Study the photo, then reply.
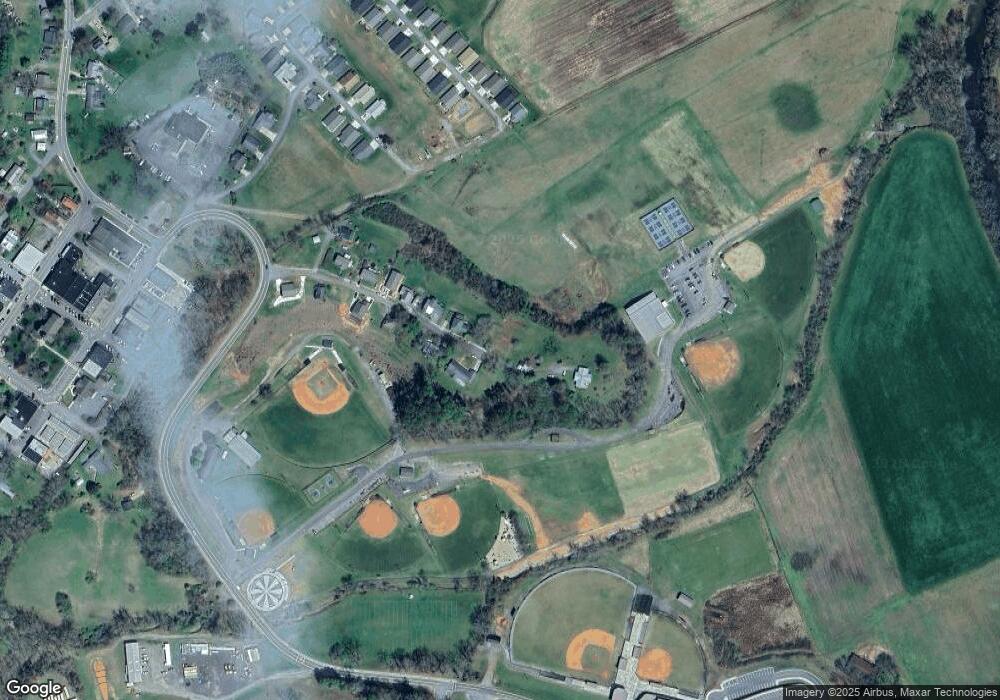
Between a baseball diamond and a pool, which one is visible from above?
baseball diamond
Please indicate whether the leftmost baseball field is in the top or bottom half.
bottom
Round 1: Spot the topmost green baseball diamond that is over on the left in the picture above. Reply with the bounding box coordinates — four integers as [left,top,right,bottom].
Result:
[262,357,394,469]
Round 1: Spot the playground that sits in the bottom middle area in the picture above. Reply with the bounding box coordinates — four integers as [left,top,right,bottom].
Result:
[486,515,521,573]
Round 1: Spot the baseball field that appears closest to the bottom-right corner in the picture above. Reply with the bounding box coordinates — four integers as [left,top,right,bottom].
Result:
[635,610,706,695]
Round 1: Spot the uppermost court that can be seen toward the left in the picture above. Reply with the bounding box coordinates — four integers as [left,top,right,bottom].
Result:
[302,470,344,508]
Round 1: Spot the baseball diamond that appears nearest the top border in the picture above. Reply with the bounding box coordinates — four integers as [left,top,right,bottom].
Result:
[717,208,816,319]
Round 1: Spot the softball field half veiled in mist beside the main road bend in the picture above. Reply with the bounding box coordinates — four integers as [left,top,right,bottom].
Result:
[212,474,308,553]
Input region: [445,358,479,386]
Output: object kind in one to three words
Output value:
house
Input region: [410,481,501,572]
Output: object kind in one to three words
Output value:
baseball field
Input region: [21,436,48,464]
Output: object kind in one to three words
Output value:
building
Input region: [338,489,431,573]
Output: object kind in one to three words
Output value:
baseball field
